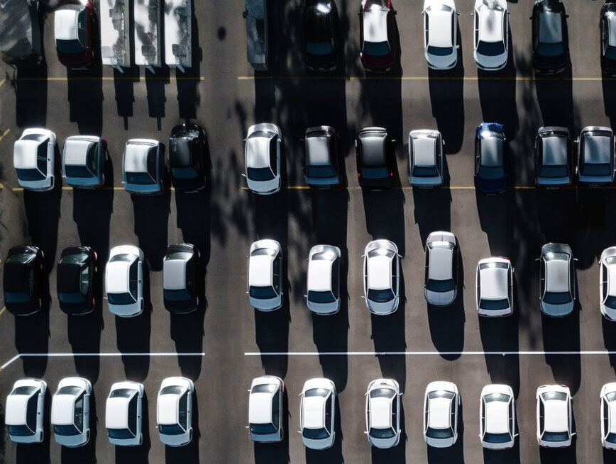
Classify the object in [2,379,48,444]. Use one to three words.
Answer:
car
